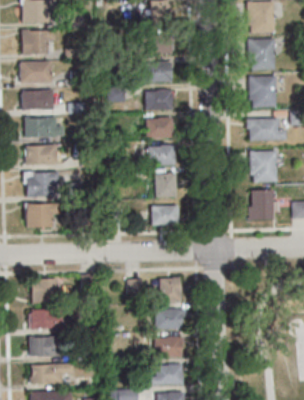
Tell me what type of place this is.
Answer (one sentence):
What you see here is a residential area.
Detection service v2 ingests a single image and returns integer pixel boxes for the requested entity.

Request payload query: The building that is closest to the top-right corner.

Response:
[247,0,276,33]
